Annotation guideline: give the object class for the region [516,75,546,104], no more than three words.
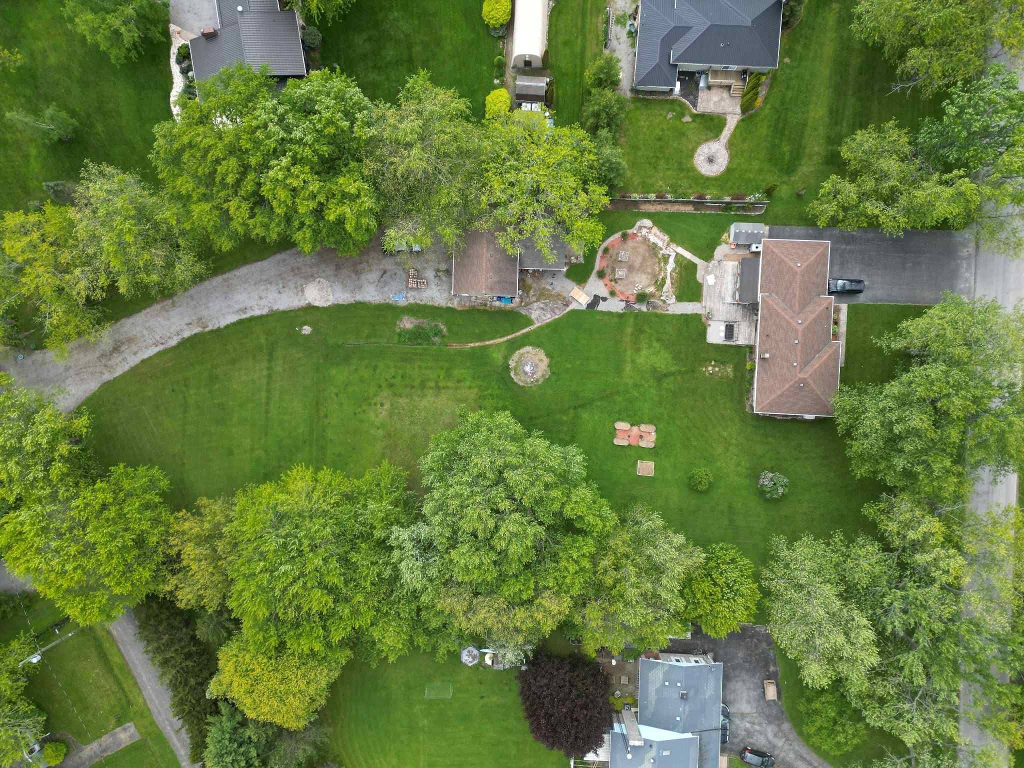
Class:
shed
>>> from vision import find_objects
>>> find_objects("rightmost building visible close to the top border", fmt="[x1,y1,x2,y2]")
[633,0,783,93]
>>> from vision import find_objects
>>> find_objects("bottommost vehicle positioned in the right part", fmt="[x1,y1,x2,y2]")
[741,747,778,768]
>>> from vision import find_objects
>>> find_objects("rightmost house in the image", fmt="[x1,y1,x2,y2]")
[751,239,842,422]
